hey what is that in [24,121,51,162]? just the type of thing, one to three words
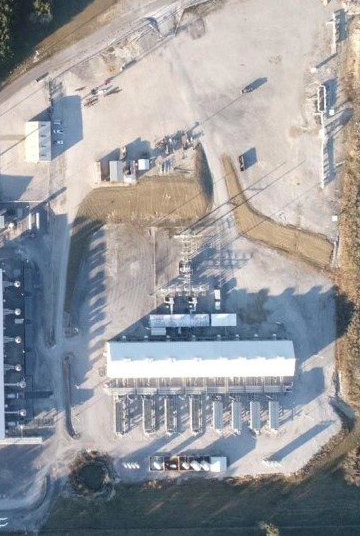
building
